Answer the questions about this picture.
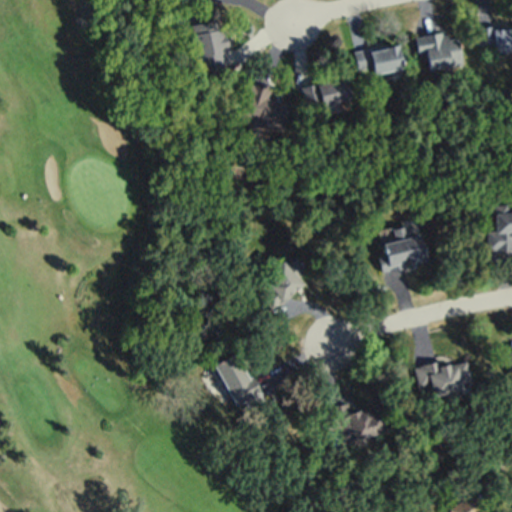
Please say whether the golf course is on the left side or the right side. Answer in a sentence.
The golf course appears in the left half of the scene.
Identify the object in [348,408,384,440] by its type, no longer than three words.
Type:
house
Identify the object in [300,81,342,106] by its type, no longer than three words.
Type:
house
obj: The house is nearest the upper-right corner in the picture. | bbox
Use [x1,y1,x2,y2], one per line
[480,27,512,56]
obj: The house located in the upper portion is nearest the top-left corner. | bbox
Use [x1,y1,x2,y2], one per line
[192,20,232,64]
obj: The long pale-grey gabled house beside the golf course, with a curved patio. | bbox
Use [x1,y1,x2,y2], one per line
[214,361,266,411]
